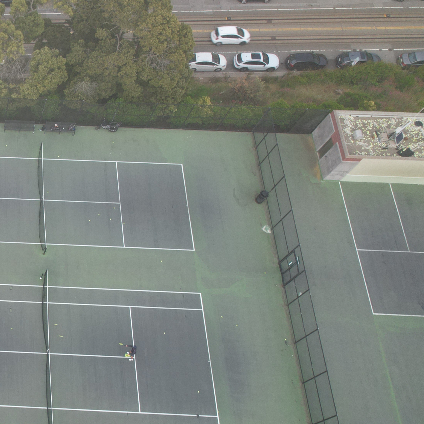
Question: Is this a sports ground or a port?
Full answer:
The picture captures a sports ground.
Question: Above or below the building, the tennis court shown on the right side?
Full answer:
Looking at the photo, you'll find the tennis court shown on the right side below the building.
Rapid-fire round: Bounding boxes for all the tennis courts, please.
[0,284,219,424]
[340,182,424,318]
[0,157,195,251]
